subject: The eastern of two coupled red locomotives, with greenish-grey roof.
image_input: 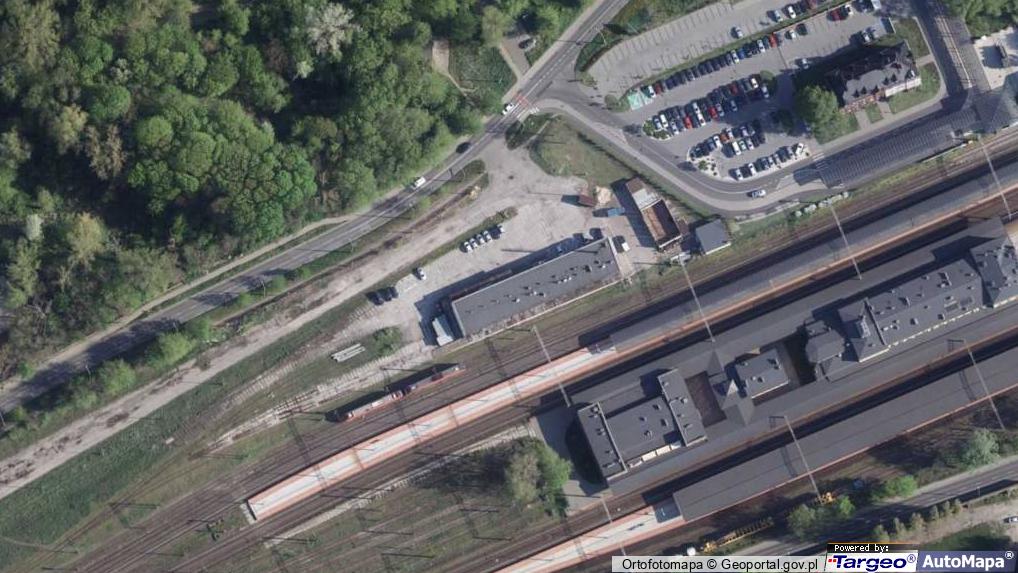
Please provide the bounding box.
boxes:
[404,362,468,395]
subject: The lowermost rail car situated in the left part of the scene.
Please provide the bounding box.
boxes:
[343,389,406,423]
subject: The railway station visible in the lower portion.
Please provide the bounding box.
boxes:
[247,162,1018,573]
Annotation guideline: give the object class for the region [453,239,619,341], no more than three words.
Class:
building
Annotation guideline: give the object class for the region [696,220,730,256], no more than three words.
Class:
shed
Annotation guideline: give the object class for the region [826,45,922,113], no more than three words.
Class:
house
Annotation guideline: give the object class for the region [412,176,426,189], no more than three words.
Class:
vehicle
